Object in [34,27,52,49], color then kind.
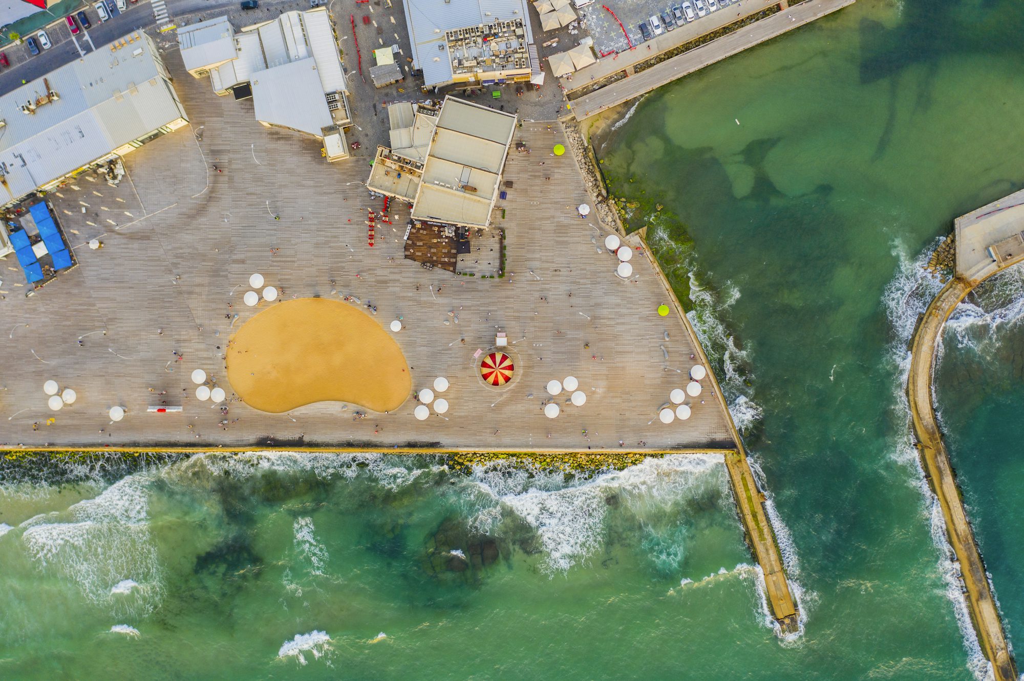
white car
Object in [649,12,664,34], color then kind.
white car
